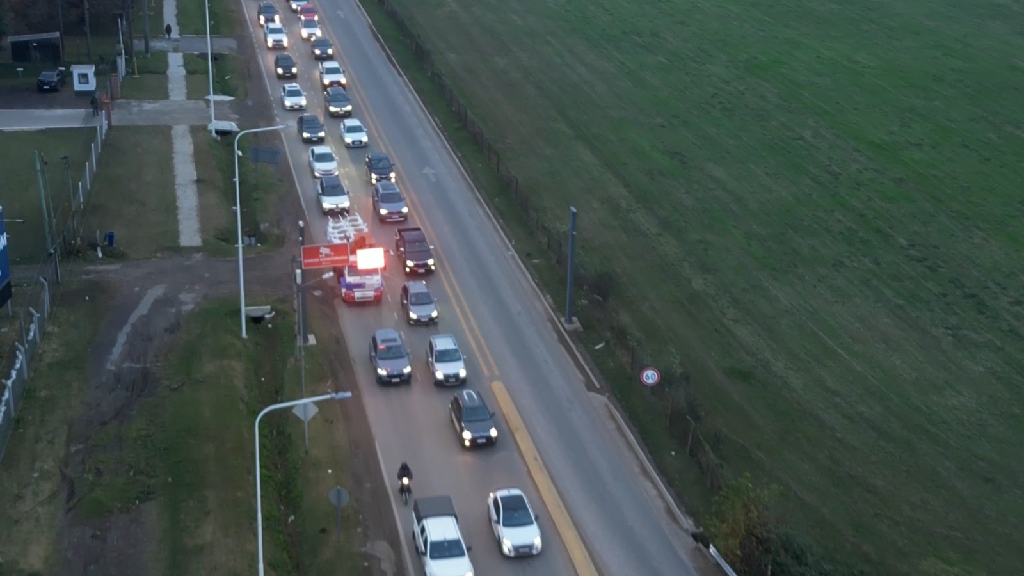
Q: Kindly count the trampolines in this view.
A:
0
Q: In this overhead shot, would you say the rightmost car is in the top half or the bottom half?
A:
bottom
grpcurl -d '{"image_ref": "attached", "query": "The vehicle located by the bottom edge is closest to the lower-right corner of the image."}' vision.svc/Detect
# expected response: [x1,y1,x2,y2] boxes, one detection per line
[484,490,542,559]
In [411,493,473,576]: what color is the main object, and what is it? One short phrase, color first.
white truck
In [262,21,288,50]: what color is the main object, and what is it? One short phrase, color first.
white truck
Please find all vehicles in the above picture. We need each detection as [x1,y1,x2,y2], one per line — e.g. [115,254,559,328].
[325,230,385,302]
[367,329,411,384]
[391,227,434,273]
[279,84,306,111]
[448,384,496,448]
[297,15,322,40]
[324,85,352,118]
[256,0,280,27]
[297,113,325,143]
[316,175,349,214]
[423,332,466,386]
[272,51,297,79]
[398,276,437,325]
[307,145,338,178]
[484,490,542,559]
[362,146,396,184]
[262,21,288,50]
[411,493,473,576]
[316,57,345,89]
[371,179,407,222]
[296,2,319,22]
[394,472,412,502]
[286,0,306,13]
[338,116,368,148]
[308,34,334,60]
